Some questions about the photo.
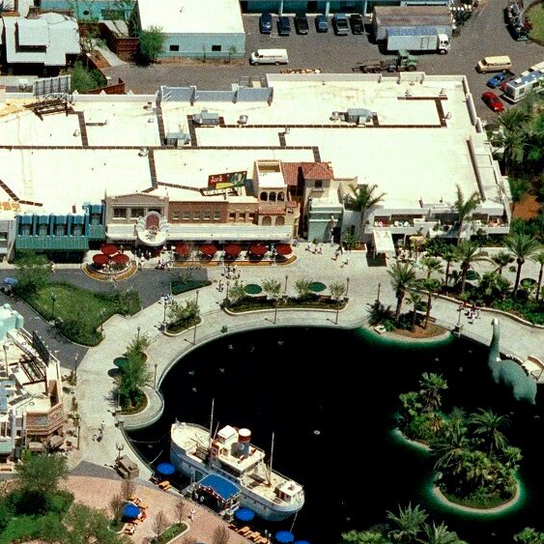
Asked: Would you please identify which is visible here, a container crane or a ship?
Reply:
ship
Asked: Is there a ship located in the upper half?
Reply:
No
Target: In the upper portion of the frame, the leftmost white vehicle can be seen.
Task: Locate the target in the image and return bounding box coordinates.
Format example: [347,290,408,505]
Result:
[251,43,287,61]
